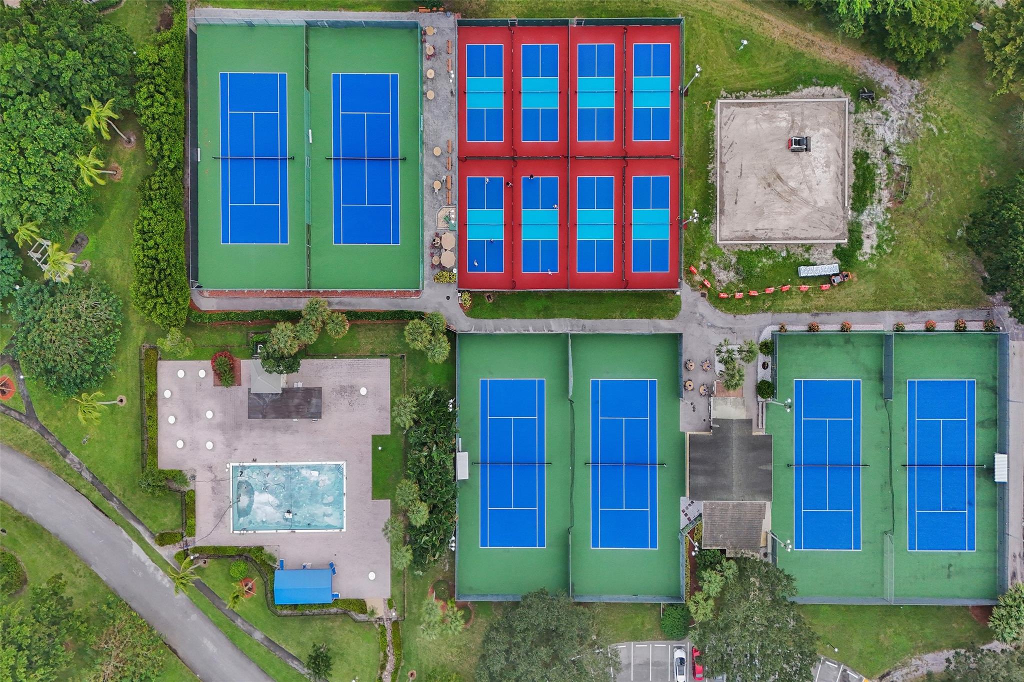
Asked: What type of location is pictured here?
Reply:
sports ground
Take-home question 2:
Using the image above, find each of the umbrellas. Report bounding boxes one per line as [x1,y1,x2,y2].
[439,249,456,270]
[440,231,456,251]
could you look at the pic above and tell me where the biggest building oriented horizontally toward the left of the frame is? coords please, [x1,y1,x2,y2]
[248,387,324,419]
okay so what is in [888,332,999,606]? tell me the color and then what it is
green tennis court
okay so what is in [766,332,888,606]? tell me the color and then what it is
green tennis court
